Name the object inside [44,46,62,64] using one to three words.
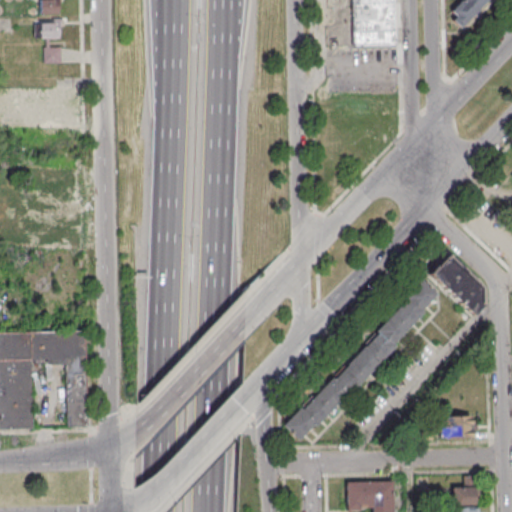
building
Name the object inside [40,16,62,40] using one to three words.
house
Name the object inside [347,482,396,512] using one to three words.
building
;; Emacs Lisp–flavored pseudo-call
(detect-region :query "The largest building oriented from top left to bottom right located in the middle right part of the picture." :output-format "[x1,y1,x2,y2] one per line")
[437,258,486,312]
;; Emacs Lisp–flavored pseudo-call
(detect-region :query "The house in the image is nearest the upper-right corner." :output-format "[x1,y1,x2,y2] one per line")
[448,0,496,32]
